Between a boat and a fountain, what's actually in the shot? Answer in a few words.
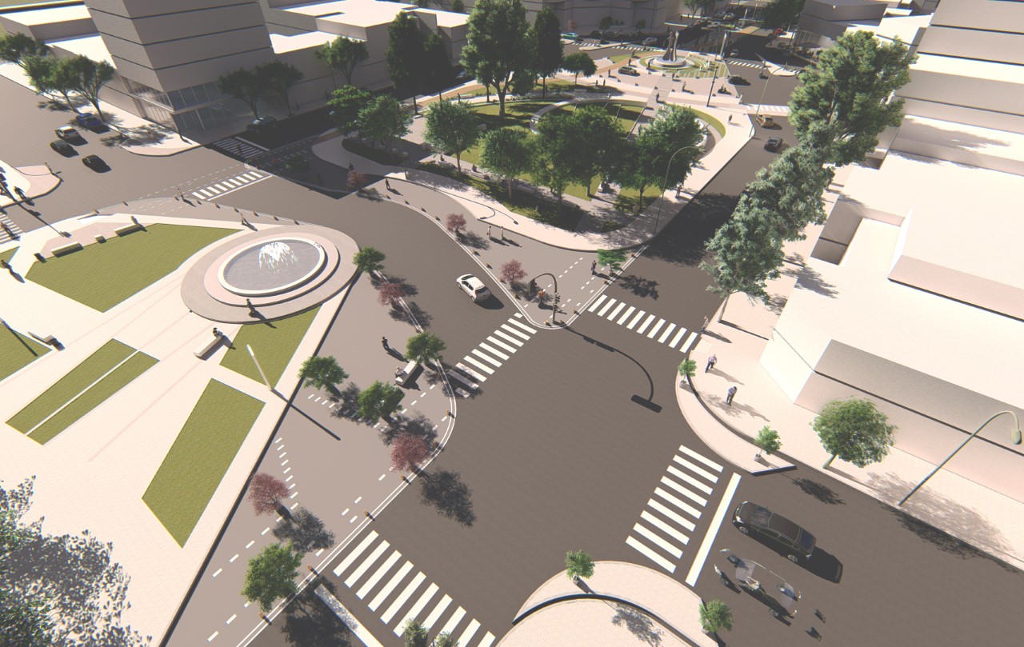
fountain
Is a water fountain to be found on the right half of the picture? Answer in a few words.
No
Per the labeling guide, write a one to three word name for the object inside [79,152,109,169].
car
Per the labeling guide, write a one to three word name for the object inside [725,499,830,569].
car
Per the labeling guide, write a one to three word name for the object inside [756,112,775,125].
vehicle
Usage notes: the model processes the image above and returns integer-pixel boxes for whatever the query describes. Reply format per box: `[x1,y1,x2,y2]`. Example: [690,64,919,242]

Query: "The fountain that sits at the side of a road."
[179,224,361,324]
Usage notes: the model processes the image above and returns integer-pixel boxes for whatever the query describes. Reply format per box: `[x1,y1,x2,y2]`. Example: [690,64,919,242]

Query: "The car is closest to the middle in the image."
[454,273,492,300]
